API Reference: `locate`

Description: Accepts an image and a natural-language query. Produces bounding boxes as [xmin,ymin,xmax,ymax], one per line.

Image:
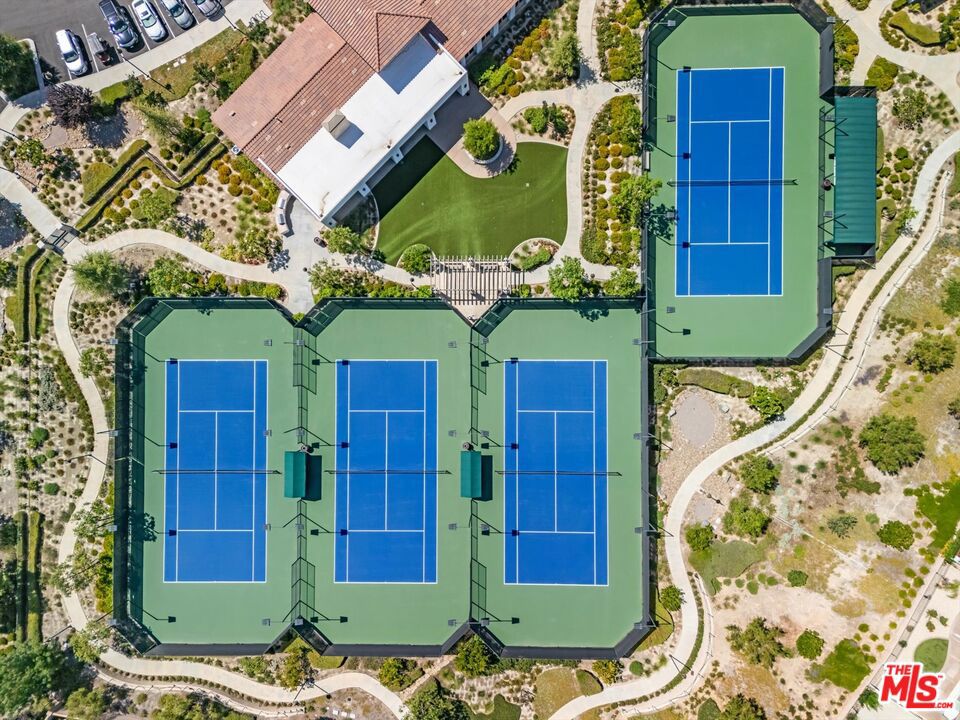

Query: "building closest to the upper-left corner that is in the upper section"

[210,0,520,231]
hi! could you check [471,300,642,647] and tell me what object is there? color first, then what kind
green tennis court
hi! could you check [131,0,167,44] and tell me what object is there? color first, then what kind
white car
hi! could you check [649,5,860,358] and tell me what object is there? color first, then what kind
green tennis court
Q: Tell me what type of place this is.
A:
sports ground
